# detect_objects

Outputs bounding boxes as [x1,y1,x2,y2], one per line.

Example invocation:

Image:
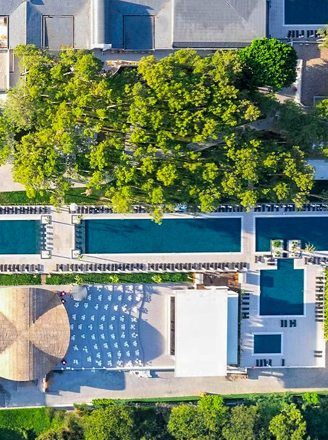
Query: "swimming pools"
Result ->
[252,333,283,355]
[253,214,328,317]
[0,218,48,256]
[283,0,328,26]
[72,216,243,256]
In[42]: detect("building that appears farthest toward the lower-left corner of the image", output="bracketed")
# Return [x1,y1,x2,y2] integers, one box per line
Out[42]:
[0,287,70,382]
